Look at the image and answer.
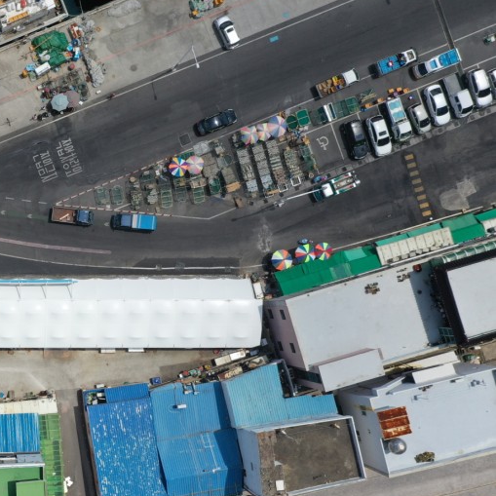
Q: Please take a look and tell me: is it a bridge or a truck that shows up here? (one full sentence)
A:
There is a truck in the scene.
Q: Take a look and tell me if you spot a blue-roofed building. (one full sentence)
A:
Yes, there is a blue-roofed building in the image.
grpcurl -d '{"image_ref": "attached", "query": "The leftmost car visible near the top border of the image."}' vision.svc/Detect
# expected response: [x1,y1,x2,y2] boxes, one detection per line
[210,13,243,53]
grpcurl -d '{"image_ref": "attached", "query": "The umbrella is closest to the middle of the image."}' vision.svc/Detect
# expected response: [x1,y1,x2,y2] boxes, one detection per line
[271,249,292,270]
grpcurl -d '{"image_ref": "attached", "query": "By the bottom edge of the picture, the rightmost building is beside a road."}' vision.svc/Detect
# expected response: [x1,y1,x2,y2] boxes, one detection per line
[339,355,496,477]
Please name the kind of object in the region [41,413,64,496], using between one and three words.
greenhouse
